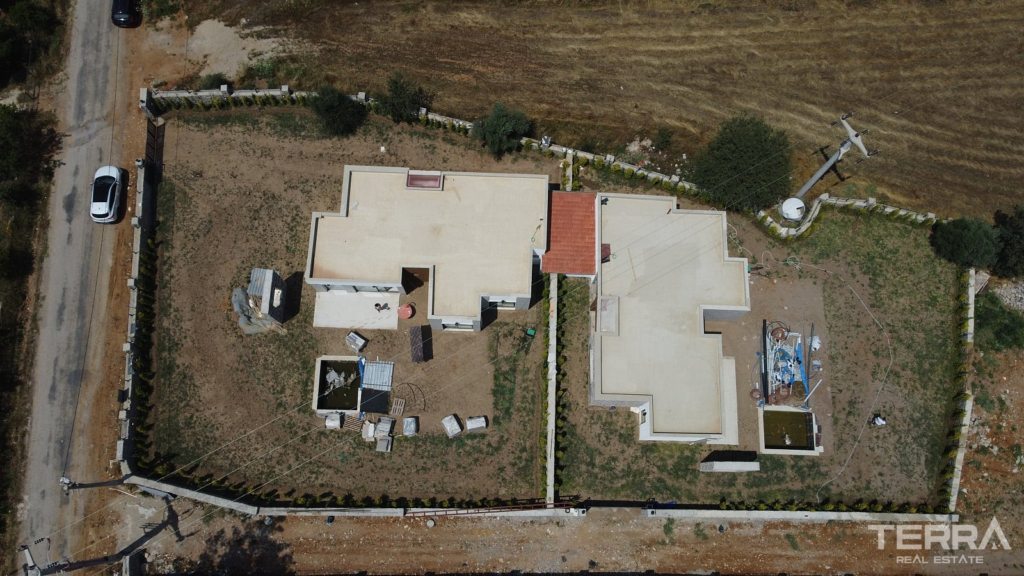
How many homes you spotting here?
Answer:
2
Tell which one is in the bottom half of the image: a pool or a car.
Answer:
pool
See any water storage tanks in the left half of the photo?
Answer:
No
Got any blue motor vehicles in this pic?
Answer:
No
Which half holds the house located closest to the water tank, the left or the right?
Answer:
right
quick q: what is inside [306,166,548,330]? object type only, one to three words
house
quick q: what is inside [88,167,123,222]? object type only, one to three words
car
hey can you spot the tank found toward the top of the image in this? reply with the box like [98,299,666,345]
[782,198,815,229]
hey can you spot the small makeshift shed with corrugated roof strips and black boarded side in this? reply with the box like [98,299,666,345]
[242,268,286,323]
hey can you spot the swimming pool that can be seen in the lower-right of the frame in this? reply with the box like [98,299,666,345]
[757,406,821,456]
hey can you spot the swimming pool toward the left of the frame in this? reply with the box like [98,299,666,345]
[313,356,362,412]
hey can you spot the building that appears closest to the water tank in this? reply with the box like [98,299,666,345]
[583,194,750,445]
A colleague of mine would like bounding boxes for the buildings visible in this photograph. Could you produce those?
[583,194,750,445]
[242,268,286,323]
[306,166,548,330]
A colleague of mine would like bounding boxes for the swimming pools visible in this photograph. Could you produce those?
[313,356,362,412]
[757,406,821,456]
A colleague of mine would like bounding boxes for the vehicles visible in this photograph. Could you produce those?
[88,167,123,222]
[108,0,137,23]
